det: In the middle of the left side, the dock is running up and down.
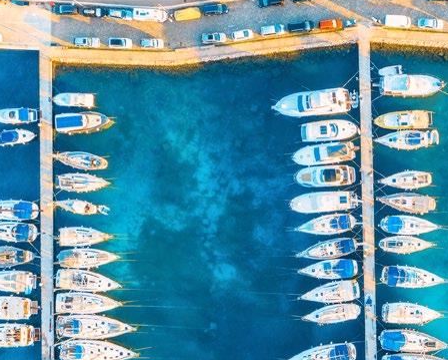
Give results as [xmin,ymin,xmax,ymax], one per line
[39,50,56,360]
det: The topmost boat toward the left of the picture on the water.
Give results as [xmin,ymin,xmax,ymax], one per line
[52,93,106,111]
